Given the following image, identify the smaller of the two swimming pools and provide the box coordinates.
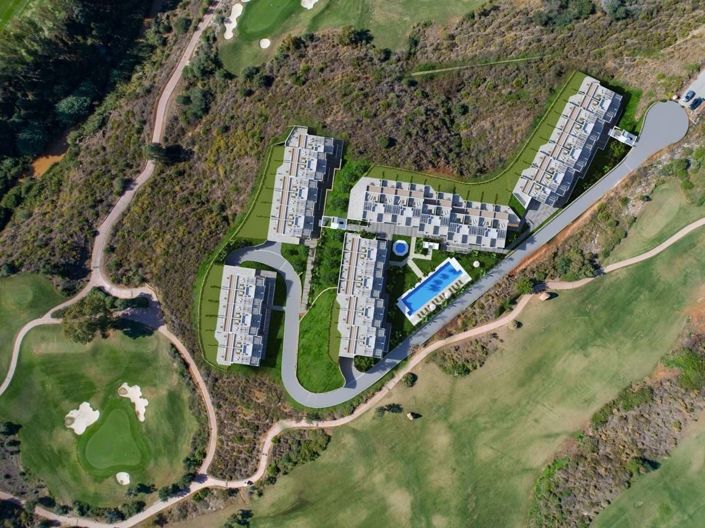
[393,240,408,254]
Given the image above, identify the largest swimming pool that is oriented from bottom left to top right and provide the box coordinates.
[397,257,470,325]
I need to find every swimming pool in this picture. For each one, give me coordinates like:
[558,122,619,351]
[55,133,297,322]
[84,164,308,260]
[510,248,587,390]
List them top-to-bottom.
[393,240,408,254]
[397,257,470,325]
